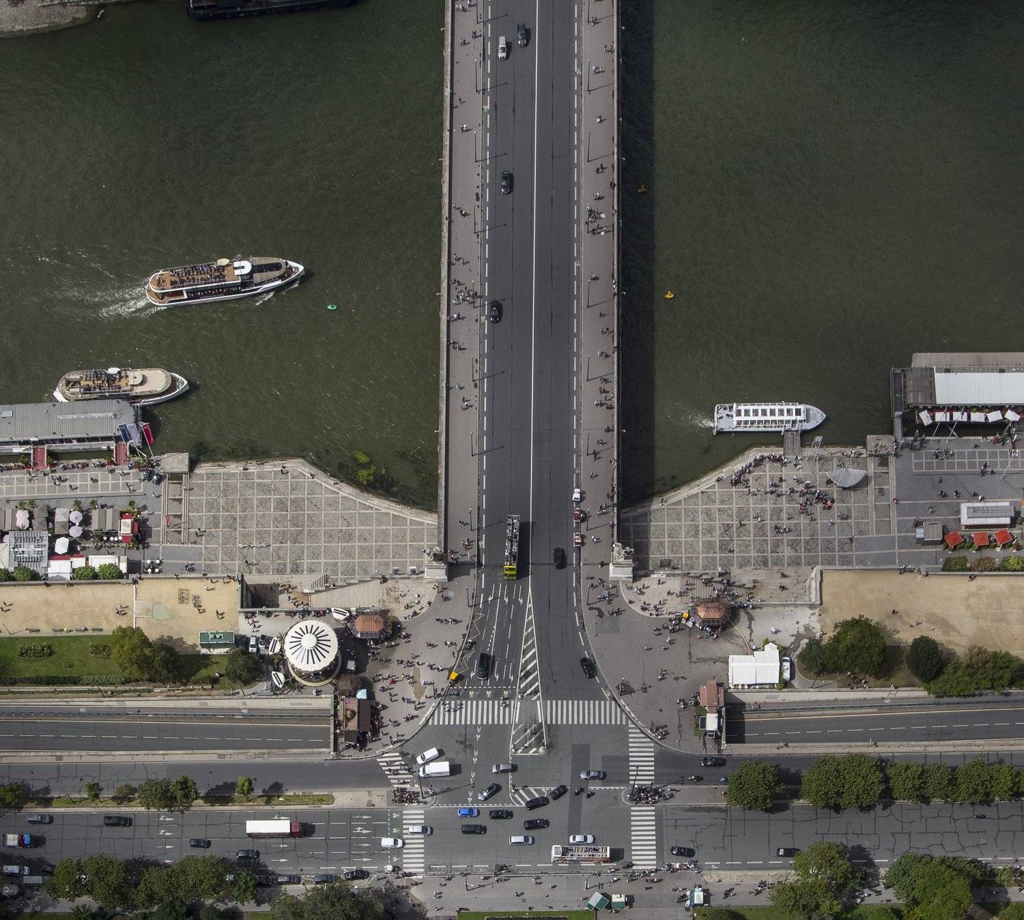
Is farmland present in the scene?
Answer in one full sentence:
No, farmland can't be seen anywhere here.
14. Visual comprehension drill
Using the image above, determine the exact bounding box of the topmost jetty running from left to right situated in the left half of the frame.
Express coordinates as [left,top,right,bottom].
[0,398,141,456]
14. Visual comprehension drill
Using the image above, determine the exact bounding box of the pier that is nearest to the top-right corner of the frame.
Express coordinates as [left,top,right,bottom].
[890,353,1024,441]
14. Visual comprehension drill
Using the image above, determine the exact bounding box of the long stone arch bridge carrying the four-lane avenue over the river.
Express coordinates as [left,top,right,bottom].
[438,0,621,700]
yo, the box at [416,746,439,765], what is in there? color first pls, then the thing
white vehicle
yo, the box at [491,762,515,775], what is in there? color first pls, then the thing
gray vehicle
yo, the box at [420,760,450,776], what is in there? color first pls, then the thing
white vehicle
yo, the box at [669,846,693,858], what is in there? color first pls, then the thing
black vehicle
